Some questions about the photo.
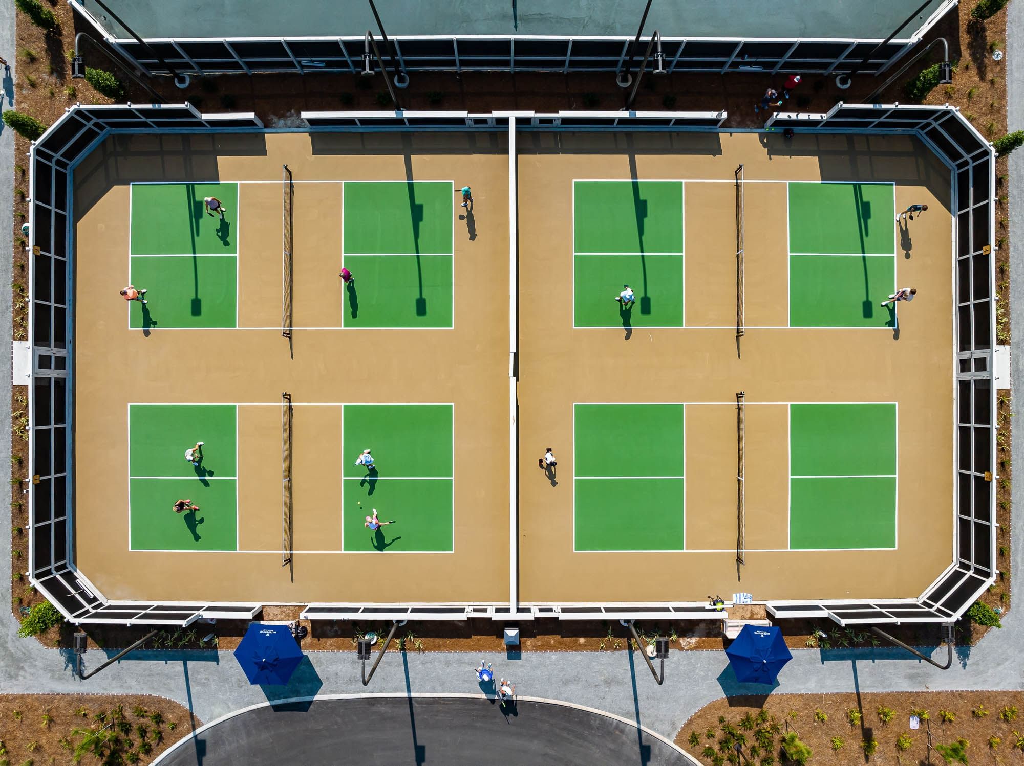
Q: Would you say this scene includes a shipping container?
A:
No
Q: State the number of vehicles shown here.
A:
0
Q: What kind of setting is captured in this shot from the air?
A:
sports ground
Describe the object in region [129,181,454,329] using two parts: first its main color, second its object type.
green sports court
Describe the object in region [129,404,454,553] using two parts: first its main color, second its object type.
green sports court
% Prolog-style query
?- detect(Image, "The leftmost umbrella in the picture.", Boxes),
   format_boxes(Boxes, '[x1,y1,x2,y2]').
[233,624,303,686]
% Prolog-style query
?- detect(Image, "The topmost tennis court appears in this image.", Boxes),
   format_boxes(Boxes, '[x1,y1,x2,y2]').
[77,0,948,37]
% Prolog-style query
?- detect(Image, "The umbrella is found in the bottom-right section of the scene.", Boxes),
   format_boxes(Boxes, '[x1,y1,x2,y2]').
[723,622,793,686]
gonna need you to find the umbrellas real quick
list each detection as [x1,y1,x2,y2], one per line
[723,622,793,686]
[233,624,303,686]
